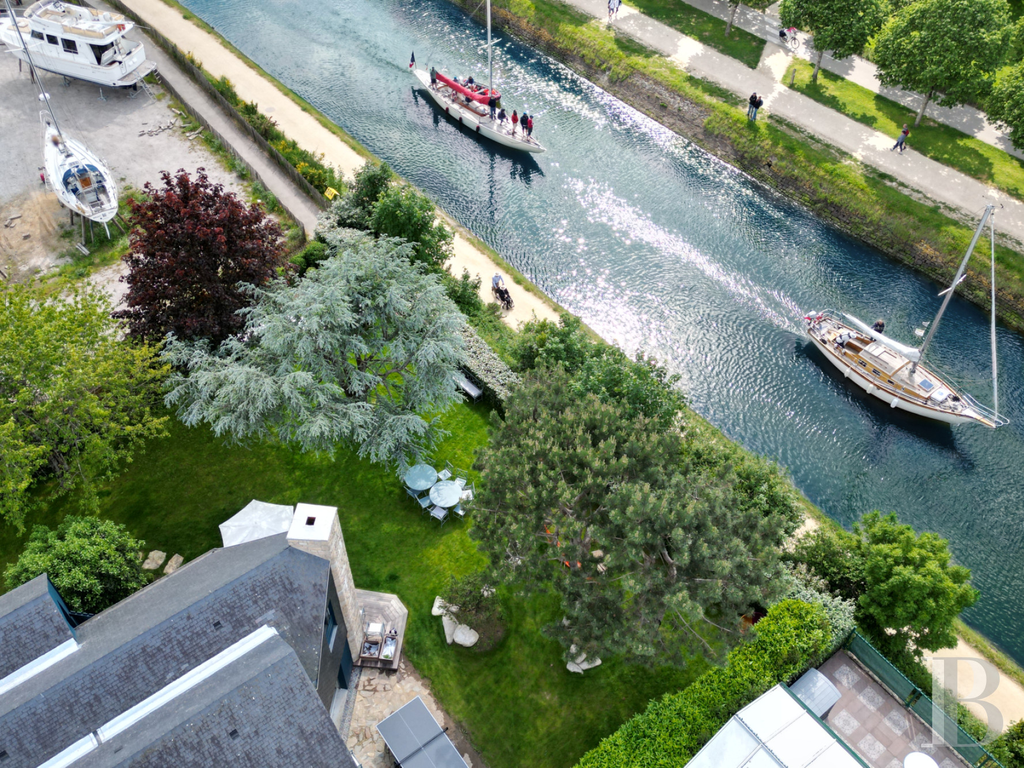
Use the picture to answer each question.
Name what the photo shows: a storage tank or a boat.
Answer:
boat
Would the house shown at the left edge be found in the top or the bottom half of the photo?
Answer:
bottom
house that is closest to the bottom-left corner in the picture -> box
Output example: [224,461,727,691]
[0,501,371,768]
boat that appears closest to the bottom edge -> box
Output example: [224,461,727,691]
[805,194,1007,436]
